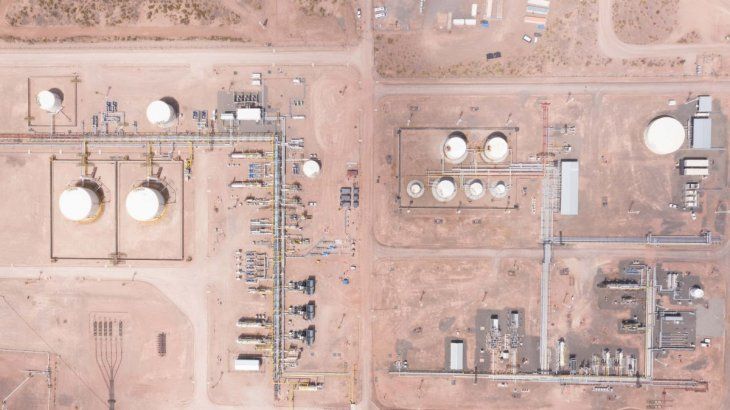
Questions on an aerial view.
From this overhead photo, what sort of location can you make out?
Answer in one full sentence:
This looks like an industrial area.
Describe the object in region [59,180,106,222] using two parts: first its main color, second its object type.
white storage tank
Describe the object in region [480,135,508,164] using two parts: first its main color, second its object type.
white storage tank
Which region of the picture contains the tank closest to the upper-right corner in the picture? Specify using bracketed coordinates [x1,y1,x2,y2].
[642,116,687,156]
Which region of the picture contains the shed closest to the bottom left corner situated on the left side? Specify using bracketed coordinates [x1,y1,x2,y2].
[235,357,260,371]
